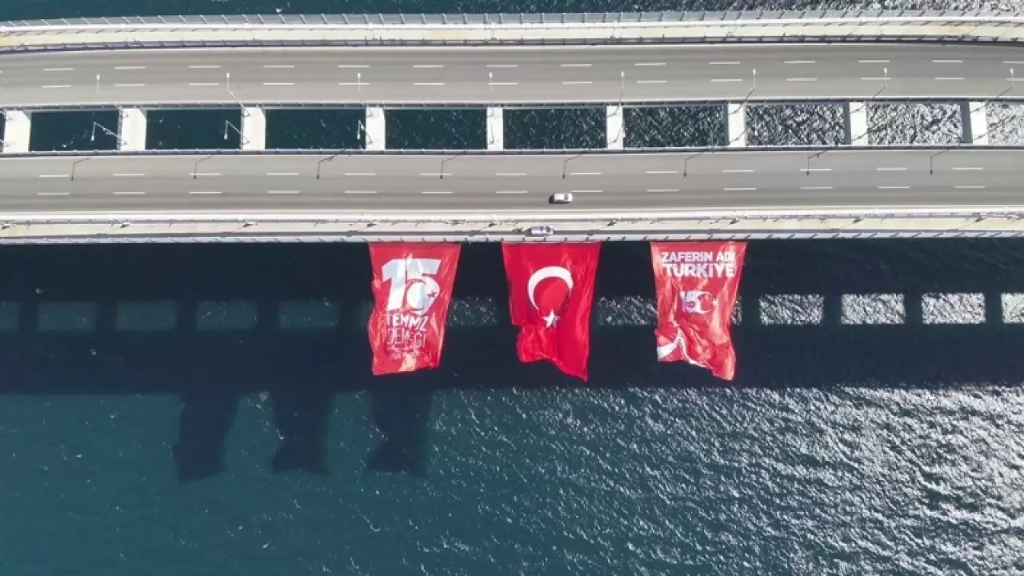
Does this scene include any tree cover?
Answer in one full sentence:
No, the picture contains no tree cover.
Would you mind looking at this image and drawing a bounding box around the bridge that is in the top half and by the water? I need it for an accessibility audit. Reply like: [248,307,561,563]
[0,17,1024,245]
